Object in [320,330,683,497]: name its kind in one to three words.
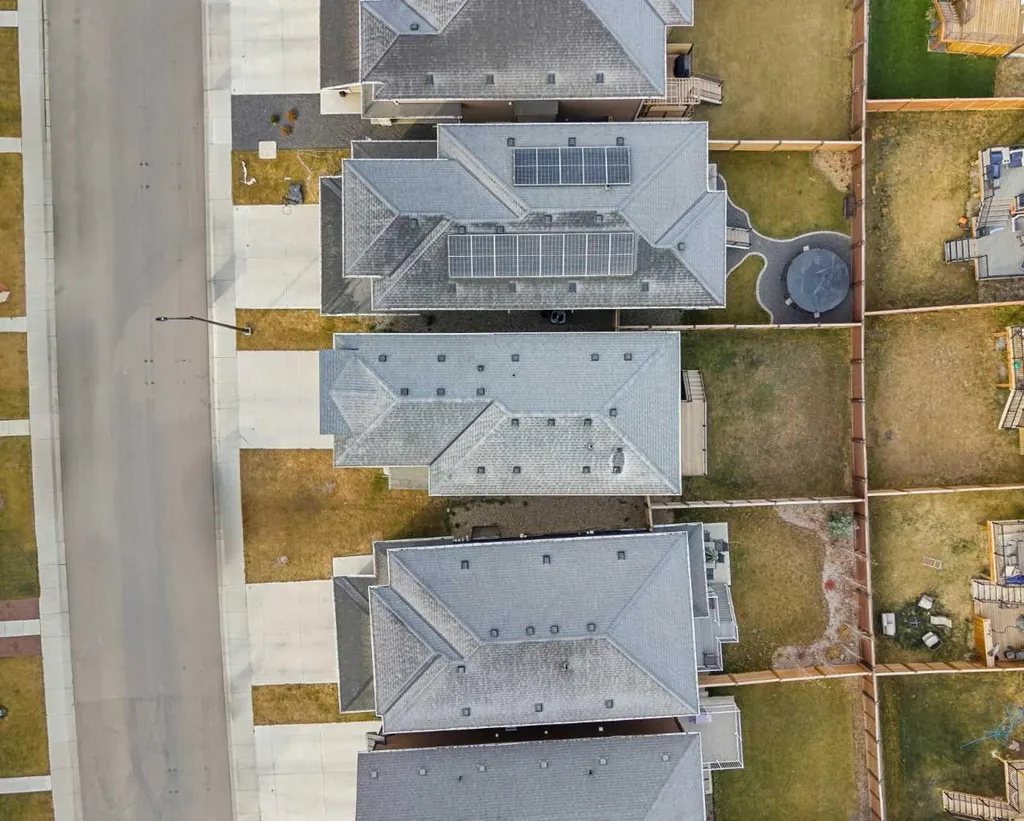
house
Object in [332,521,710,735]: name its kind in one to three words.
house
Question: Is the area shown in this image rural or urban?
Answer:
urban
